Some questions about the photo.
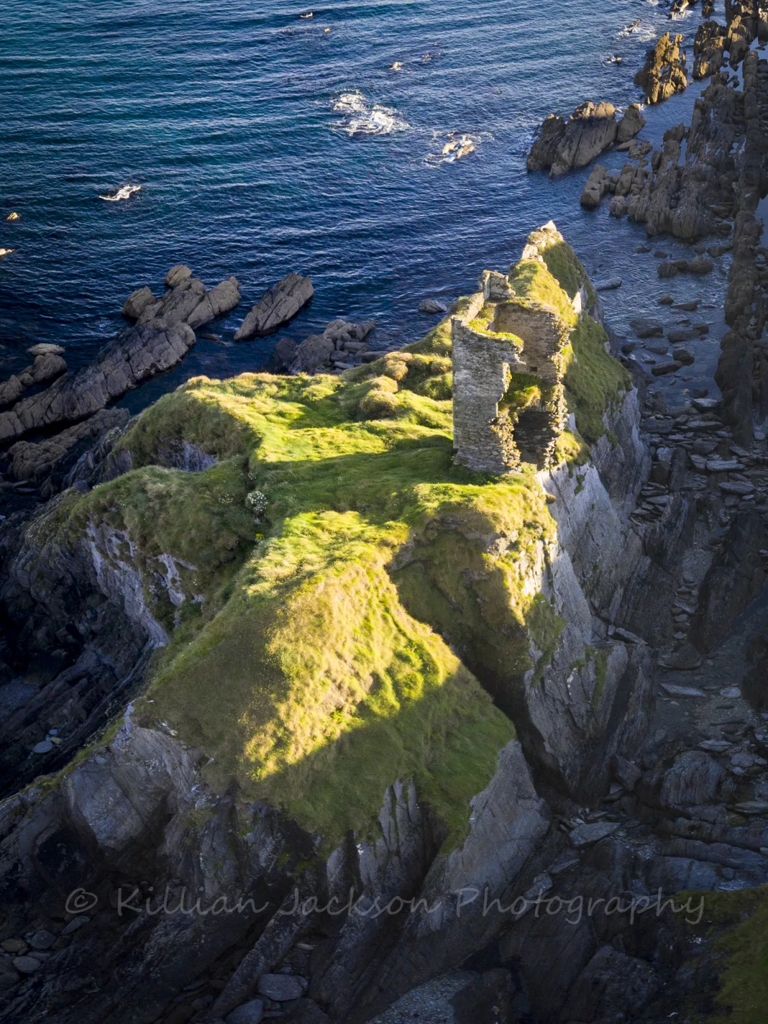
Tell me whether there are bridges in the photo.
No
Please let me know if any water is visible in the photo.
Yes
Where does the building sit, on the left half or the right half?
right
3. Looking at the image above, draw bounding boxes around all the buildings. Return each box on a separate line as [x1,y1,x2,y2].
[451,257,574,481]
